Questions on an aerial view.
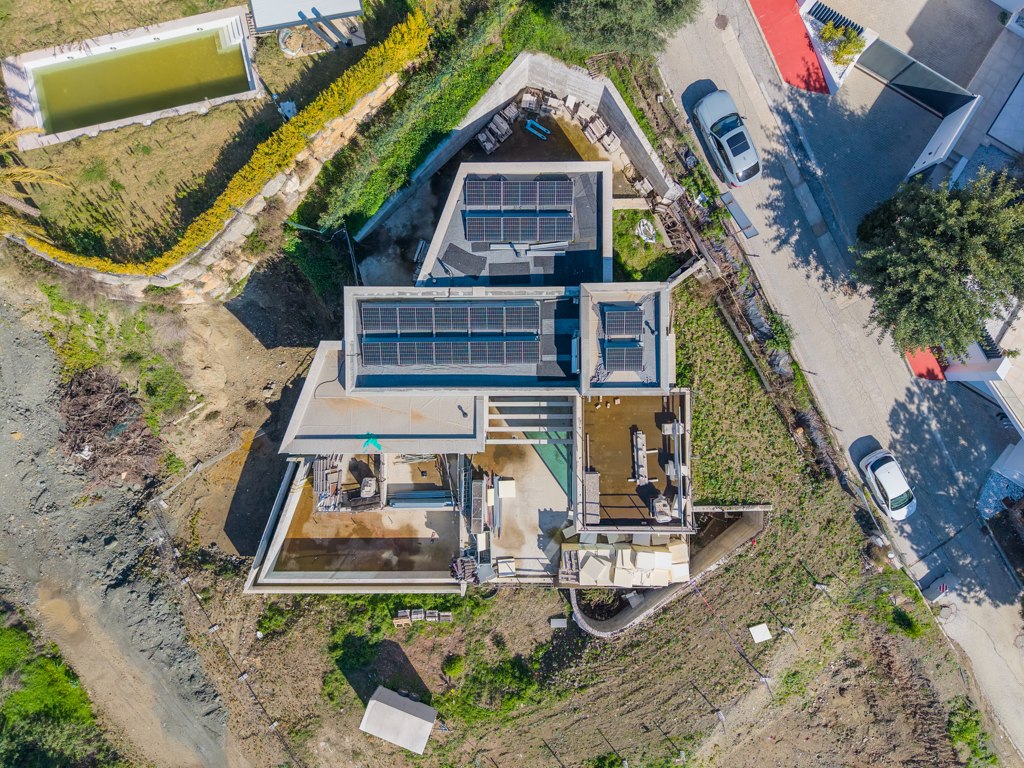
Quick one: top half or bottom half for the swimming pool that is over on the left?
top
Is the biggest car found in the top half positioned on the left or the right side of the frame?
right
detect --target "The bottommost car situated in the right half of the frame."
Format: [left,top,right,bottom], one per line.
[858,449,916,523]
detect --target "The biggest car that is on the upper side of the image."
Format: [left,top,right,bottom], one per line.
[694,92,765,191]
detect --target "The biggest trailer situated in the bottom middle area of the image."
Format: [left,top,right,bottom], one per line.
[360,687,453,753]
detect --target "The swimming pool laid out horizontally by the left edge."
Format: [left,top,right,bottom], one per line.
[2,5,269,148]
